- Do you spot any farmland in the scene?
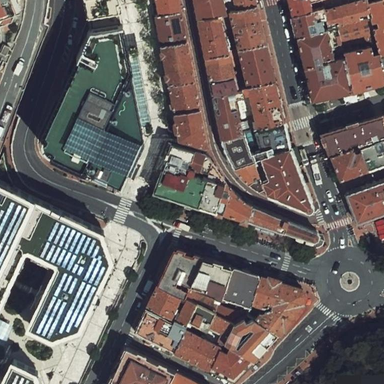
No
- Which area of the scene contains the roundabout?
bottom right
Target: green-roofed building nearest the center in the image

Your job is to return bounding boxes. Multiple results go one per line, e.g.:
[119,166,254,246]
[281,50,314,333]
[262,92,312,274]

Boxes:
[152,158,204,208]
